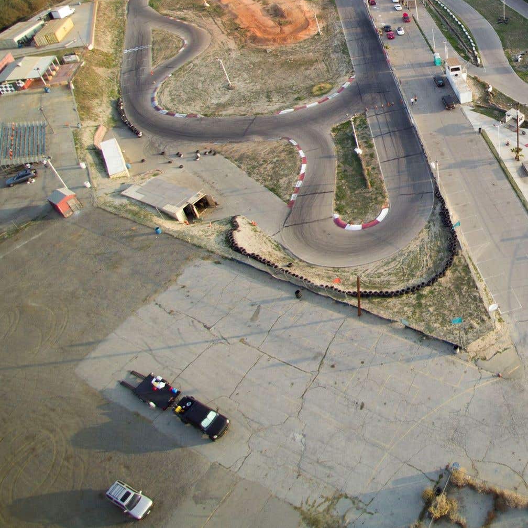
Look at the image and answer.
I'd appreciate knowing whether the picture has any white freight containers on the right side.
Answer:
No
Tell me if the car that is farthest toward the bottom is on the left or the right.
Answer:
left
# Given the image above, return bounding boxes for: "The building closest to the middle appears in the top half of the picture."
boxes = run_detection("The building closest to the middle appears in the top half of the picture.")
[120,177,223,225]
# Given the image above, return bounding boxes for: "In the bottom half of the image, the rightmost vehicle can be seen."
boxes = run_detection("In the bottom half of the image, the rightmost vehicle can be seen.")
[171,394,230,441]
